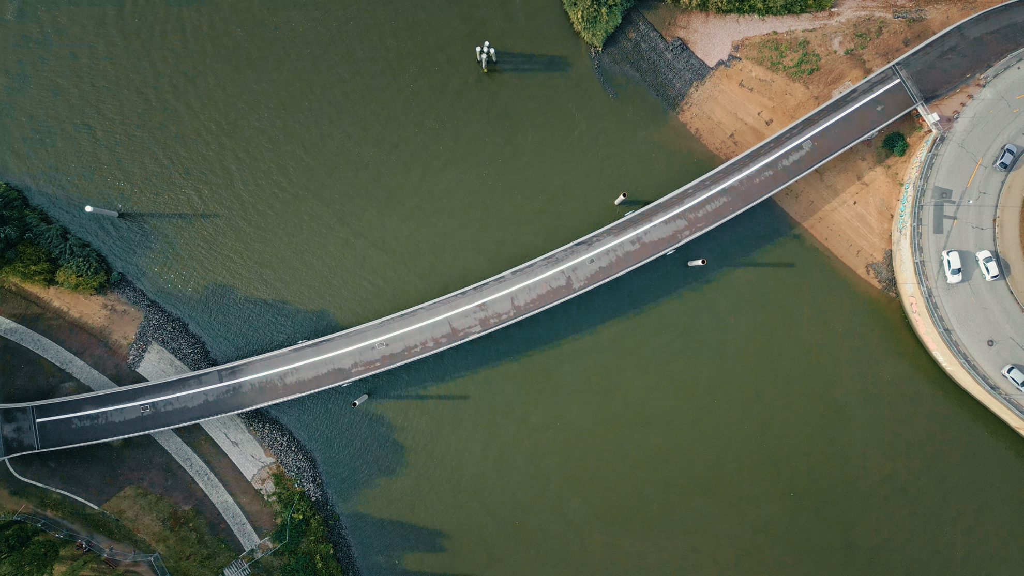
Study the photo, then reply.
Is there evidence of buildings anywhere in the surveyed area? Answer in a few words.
No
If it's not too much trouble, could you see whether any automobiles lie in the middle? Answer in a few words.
No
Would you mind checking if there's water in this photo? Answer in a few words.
Yes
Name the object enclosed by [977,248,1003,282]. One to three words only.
car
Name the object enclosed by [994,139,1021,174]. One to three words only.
car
